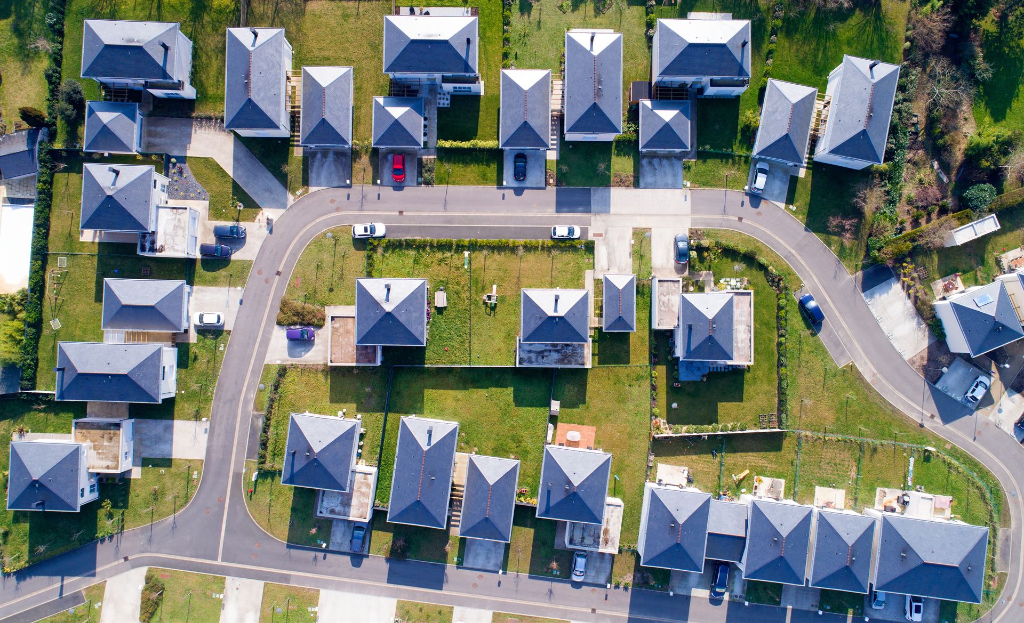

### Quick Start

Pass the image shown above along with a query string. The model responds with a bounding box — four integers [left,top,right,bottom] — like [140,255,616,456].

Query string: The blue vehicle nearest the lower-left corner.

[350,522,368,554]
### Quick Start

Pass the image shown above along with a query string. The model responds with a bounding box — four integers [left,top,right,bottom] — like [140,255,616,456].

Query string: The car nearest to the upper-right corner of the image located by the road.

[750,161,770,194]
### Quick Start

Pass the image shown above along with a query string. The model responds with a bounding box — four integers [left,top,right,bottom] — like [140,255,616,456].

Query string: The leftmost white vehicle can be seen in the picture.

[193,311,224,327]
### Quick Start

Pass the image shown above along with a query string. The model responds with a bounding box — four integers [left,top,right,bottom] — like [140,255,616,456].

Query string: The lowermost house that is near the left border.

[8,417,133,512]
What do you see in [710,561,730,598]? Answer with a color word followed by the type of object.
blue vehicle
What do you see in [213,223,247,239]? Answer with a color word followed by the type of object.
blue car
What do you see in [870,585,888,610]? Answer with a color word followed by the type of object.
blue car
